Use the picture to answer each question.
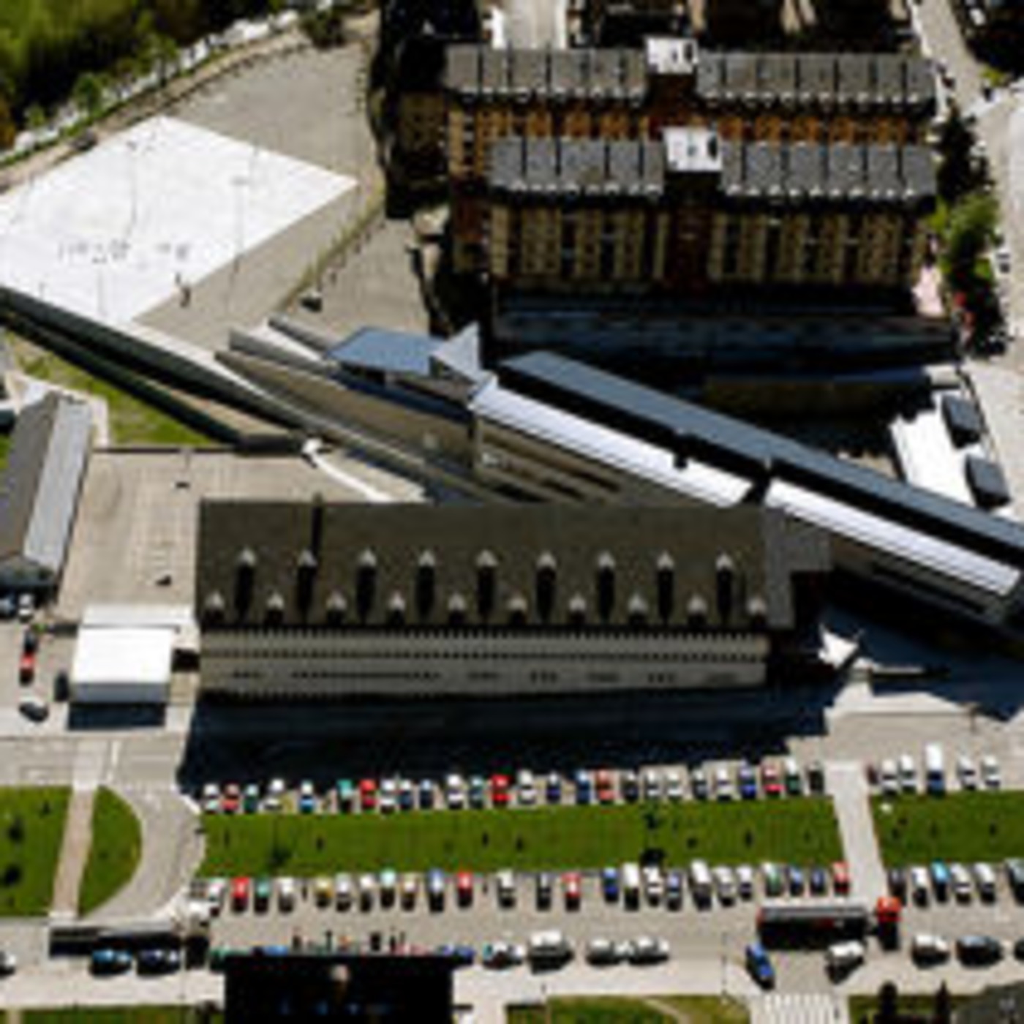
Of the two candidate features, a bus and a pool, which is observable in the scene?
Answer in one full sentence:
I can see a bus in this picture.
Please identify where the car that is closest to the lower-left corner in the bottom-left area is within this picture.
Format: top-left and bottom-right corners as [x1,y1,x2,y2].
[0,947,23,968]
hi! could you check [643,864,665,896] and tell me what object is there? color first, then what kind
white car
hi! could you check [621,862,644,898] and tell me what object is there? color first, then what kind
white vehicle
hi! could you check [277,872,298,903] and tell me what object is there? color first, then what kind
white car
